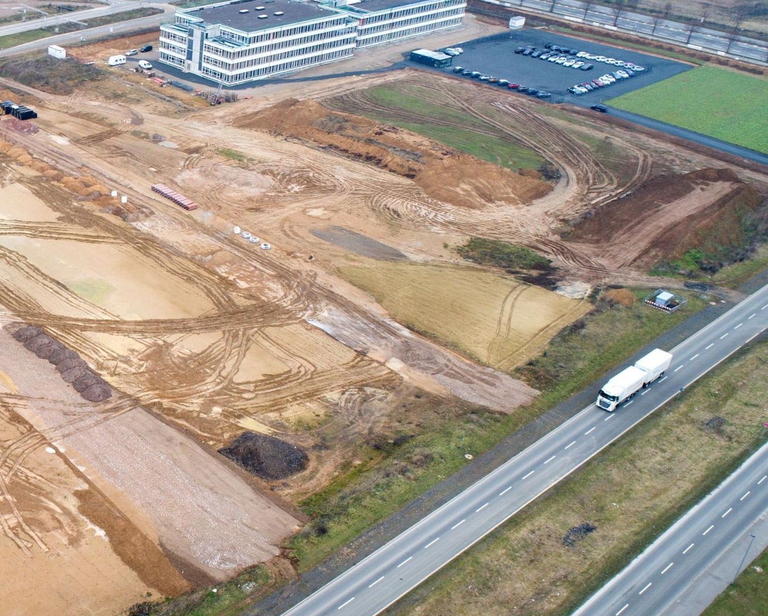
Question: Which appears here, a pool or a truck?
truck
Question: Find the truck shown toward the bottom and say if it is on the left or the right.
right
